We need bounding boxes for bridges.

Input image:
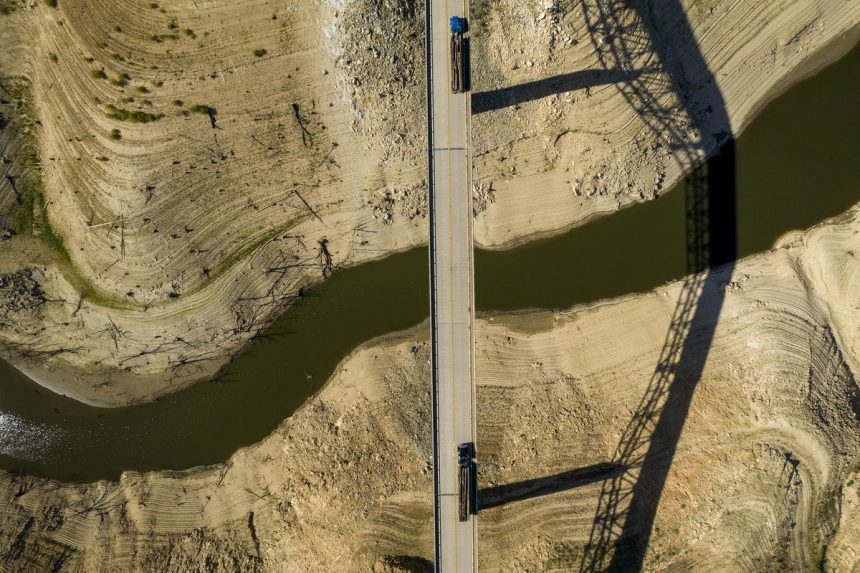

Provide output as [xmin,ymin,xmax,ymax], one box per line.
[425,0,480,573]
